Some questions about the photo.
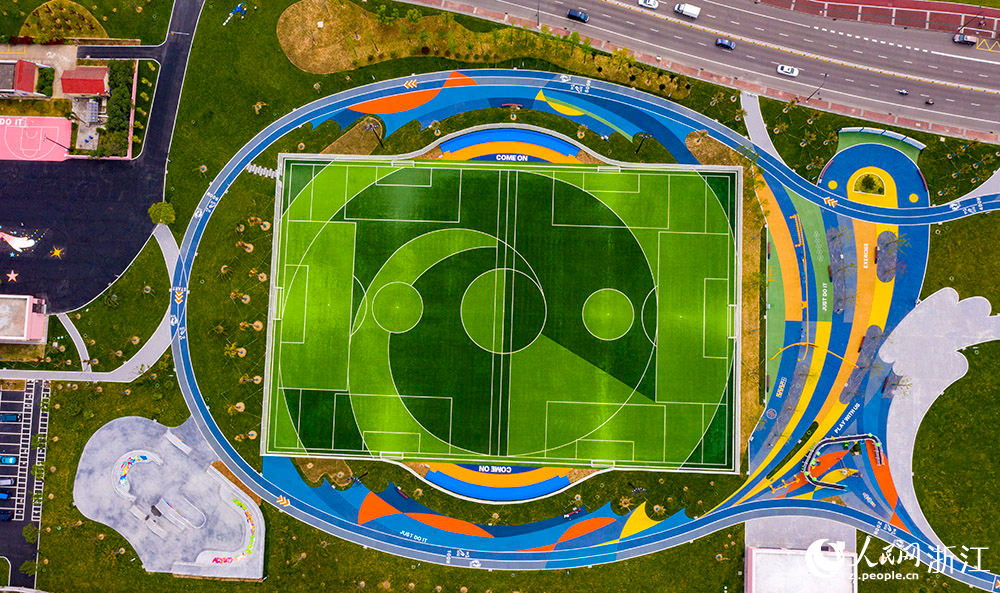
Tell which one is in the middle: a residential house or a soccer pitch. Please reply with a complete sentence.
What appears in the middle is a soccer pitch.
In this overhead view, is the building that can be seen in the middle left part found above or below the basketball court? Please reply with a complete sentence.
It's below the basketball court that the building that can be seen in the middle left part shows up.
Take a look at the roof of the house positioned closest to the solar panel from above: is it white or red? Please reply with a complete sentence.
From above, the roof of the house positioned closest to the solar panel appears red.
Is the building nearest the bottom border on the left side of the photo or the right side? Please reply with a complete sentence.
It is on the right.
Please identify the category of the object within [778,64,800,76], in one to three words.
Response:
vehicle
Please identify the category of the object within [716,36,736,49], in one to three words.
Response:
vehicle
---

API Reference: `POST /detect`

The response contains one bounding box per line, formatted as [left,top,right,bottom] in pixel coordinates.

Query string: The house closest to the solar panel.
[61,66,113,97]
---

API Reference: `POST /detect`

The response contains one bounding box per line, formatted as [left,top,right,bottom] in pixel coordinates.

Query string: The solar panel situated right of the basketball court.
[87,102,104,125]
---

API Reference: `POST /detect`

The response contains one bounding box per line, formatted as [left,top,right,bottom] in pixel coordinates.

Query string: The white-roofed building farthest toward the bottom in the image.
[748,547,860,593]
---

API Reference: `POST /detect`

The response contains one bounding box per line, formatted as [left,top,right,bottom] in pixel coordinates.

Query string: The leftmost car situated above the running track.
[567,6,589,21]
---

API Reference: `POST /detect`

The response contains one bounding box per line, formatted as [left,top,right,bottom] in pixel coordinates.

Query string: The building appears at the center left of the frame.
[0,298,49,345]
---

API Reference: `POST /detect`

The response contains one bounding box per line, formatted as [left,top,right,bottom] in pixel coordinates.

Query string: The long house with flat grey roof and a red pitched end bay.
[0,61,46,97]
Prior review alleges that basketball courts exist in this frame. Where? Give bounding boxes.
[0,115,71,161]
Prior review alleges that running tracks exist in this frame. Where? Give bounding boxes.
[169,67,1000,593]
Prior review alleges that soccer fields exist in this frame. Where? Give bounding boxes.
[267,128,737,472]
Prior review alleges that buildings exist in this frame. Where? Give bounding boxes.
[0,61,46,97]
[748,547,860,593]
[0,298,49,345]
[61,66,113,97]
